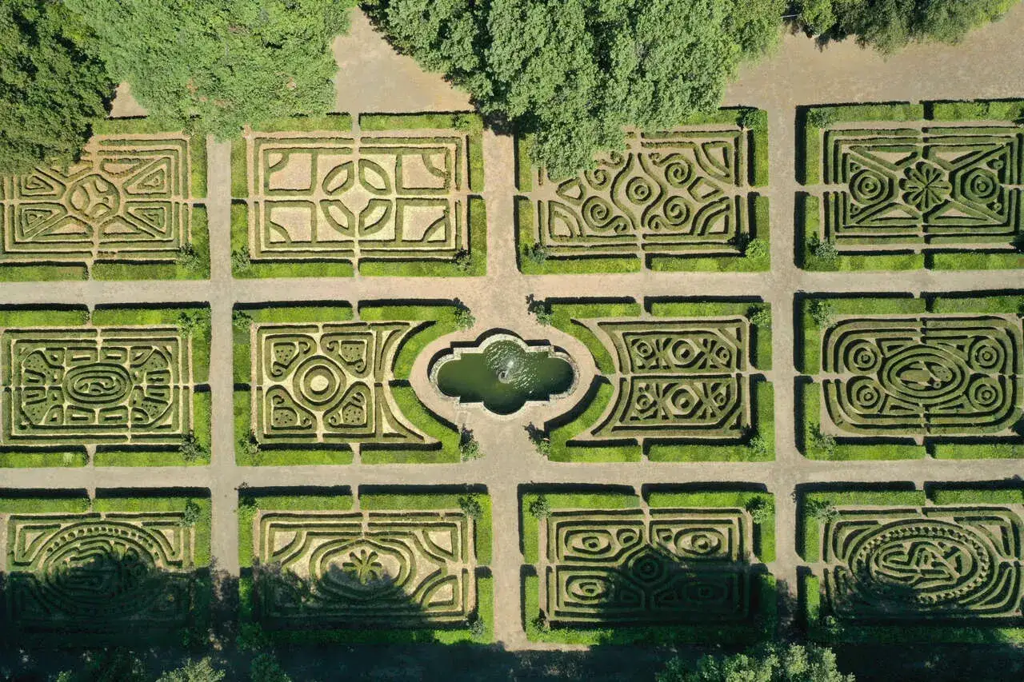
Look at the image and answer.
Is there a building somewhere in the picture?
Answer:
No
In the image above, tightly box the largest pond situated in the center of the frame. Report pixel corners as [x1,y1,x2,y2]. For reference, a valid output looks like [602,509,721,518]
[434,336,578,419]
